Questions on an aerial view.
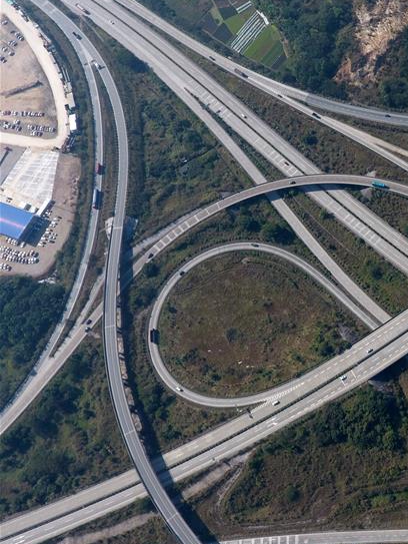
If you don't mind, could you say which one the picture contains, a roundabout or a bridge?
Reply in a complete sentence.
The one in the frame is a bridge.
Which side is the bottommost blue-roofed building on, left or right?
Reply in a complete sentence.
It is on the left.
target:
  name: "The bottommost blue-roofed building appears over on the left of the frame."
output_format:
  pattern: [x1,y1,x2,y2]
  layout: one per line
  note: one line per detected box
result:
[0,204,39,241]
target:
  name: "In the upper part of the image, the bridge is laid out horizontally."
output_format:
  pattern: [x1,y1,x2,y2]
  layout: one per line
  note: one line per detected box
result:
[226,174,406,205]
